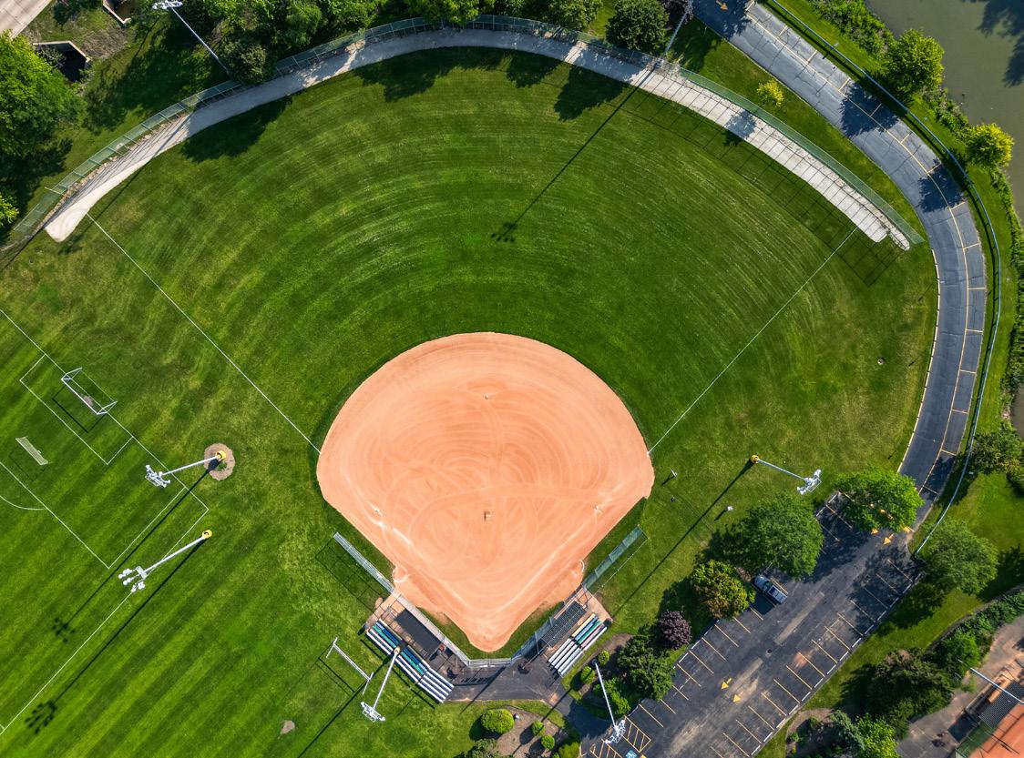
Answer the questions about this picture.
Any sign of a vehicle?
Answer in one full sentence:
Yes, there is a vehicle in the image.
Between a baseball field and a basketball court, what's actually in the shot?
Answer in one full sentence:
I can see a baseball field in this picture.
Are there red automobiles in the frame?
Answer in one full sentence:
No, there isn't any red automobile down there.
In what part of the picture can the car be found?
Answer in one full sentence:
Look in the bottom right portion of the view to spot the car.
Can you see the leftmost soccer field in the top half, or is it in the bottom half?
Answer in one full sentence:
Seen from above, the leftmost soccer field lies in the bottom half of the view.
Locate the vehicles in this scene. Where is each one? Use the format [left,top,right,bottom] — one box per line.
[755,574,786,603]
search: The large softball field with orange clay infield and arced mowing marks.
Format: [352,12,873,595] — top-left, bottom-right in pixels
[27,18,913,653]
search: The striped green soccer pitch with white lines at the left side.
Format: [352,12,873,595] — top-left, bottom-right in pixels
[0,309,208,730]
